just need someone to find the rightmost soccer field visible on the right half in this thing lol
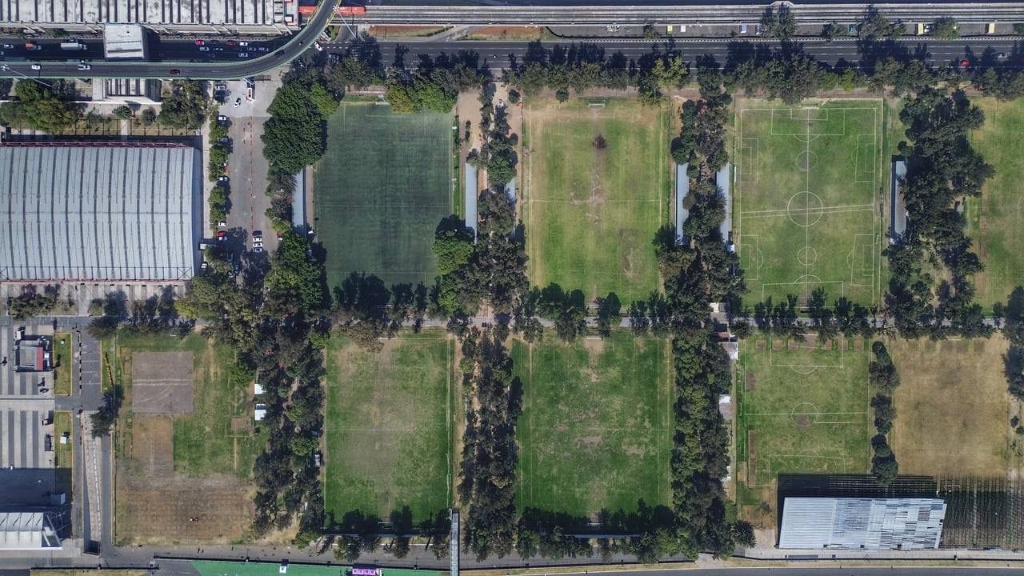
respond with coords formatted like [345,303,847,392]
[966,94,1024,314]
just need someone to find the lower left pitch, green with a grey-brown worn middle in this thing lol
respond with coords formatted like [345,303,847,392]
[323,331,458,528]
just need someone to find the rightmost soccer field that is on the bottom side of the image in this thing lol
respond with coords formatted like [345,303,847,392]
[888,331,1011,483]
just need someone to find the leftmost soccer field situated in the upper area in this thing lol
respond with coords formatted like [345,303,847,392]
[314,96,454,291]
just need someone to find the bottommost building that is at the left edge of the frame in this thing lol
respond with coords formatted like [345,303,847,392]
[0,502,71,550]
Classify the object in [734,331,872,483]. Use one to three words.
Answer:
soccer field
